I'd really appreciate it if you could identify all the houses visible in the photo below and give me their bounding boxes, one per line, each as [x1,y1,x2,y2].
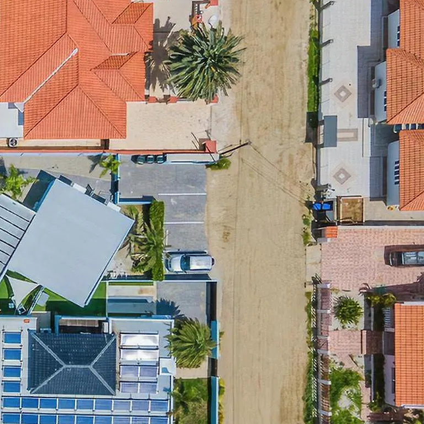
[373,0,424,126]
[386,129,424,211]
[6,178,135,311]
[0,0,154,140]
[0,316,176,424]
[381,301,424,409]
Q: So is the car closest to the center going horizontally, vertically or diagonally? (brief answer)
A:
horizontally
